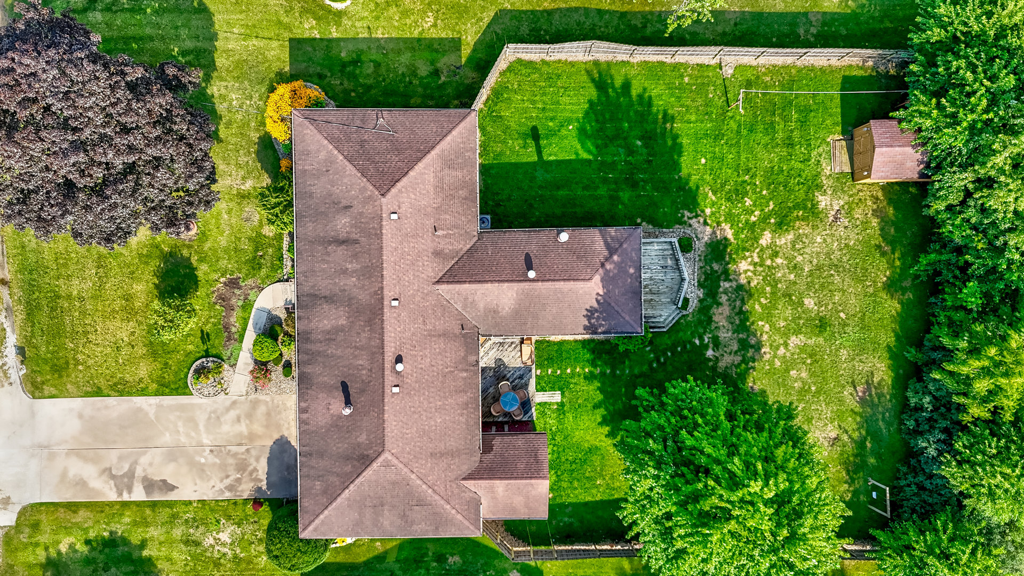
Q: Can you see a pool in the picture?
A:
No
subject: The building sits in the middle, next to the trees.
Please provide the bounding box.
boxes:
[291,107,645,540]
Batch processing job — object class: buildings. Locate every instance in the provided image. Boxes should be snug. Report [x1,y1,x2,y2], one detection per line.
[291,107,645,540]
[853,121,943,181]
